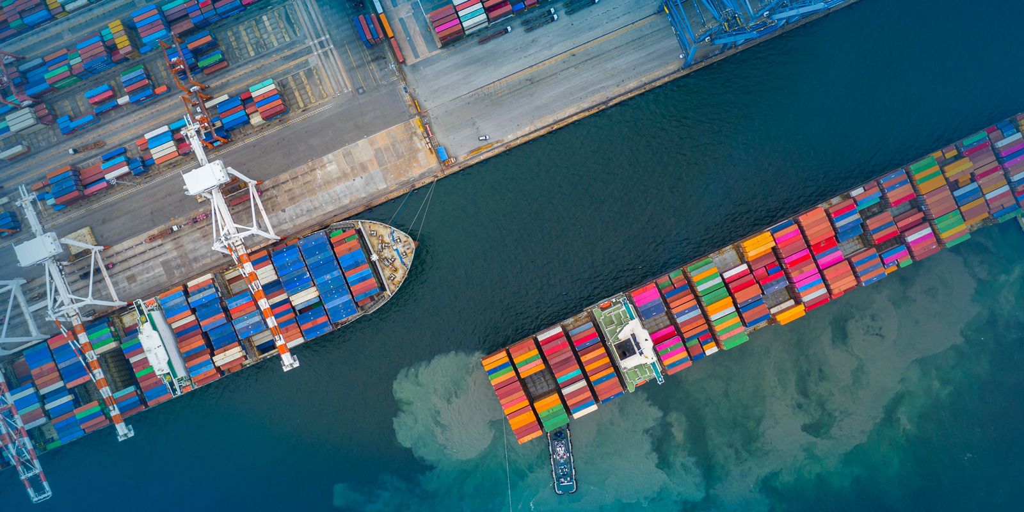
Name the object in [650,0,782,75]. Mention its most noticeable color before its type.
blue container crane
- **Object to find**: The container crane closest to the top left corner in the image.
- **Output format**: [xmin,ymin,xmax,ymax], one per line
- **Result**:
[0,46,44,106]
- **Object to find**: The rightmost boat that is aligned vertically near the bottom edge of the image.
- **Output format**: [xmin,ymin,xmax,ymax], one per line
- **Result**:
[546,422,577,496]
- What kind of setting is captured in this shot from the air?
port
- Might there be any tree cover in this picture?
No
